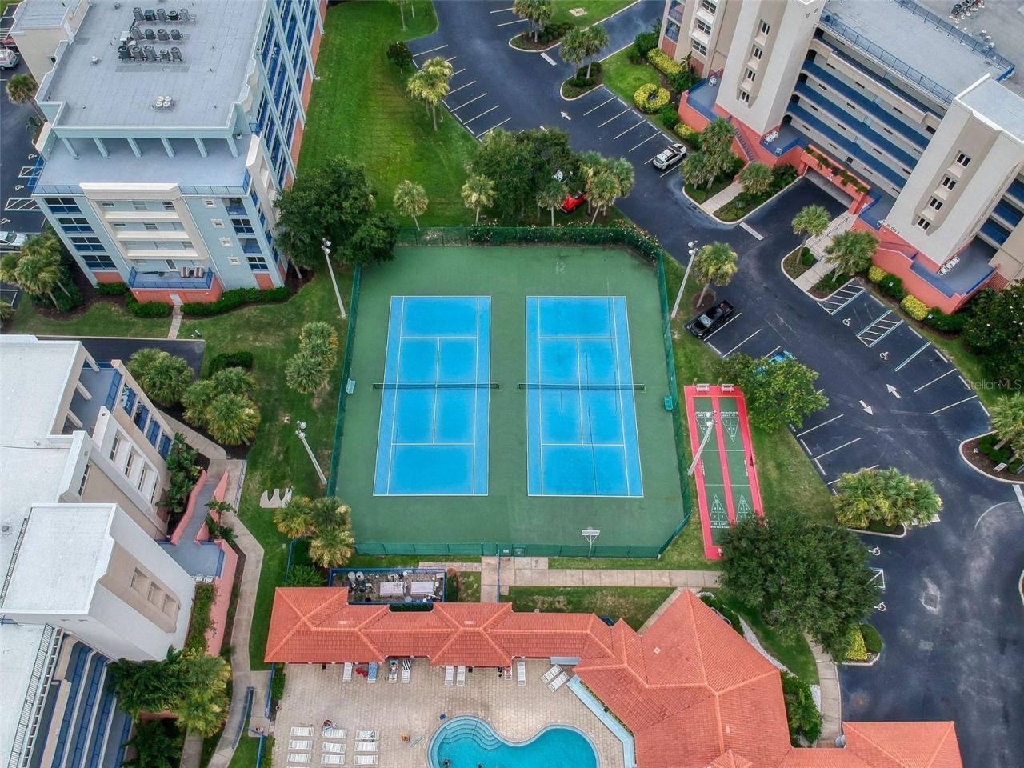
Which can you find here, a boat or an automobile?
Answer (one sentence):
Visible in the photo is an automobile.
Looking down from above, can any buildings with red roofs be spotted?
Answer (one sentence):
Yes, the picture does show a building with a red roof.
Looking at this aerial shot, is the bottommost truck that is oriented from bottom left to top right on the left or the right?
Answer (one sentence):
The bottommost truck that is oriented from bottom left to top right is on the right side of the image.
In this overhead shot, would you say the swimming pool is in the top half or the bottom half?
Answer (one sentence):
It is in the bottom half that the swimming pool appears.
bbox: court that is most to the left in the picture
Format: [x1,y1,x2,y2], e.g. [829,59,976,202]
[331,250,508,555]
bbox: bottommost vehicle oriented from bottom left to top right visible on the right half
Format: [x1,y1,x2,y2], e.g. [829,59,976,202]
[685,297,738,338]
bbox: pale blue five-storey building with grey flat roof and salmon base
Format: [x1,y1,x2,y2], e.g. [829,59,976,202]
[8,0,327,305]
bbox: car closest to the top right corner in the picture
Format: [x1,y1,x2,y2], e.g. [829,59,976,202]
[651,144,687,171]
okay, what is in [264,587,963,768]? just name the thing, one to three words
building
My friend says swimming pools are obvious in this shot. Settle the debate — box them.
[427,715,601,768]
